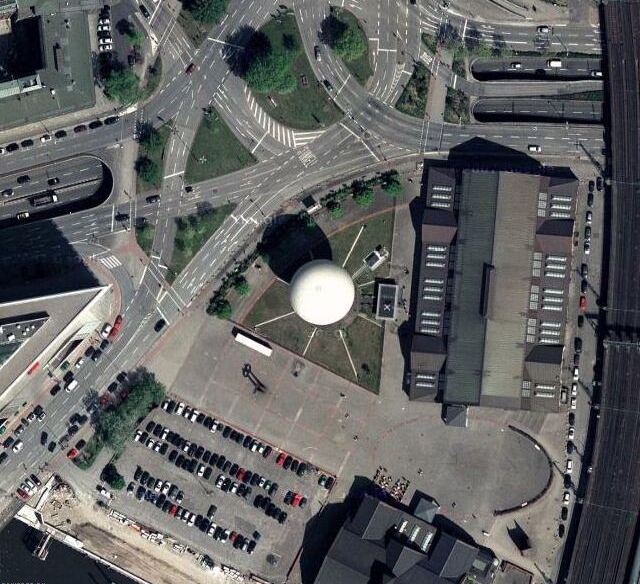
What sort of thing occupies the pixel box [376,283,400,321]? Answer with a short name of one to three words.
building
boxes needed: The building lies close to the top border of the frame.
[0,0,101,134]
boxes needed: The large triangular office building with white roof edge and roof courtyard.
[0,285,119,416]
